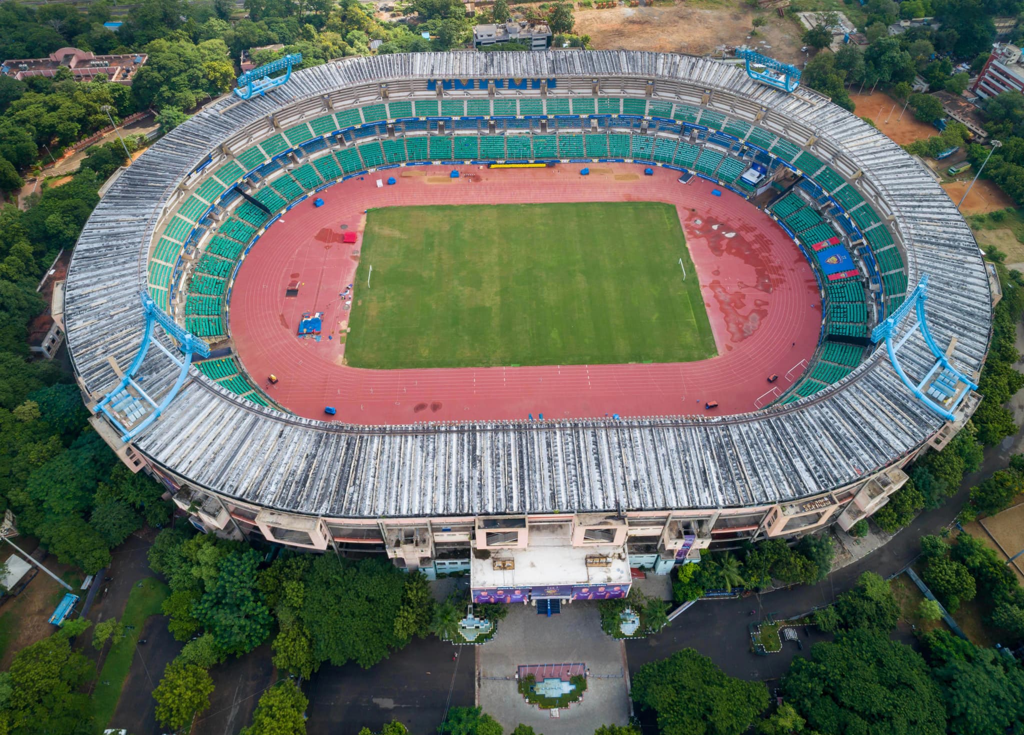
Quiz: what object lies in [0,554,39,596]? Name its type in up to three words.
tent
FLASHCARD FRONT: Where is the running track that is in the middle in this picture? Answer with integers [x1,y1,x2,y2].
[228,164,824,425]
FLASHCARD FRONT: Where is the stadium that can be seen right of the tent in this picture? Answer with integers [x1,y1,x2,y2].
[45,45,1007,588]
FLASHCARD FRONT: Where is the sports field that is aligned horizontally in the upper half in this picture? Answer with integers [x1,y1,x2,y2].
[345,199,717,369]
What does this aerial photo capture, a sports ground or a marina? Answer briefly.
sports ground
